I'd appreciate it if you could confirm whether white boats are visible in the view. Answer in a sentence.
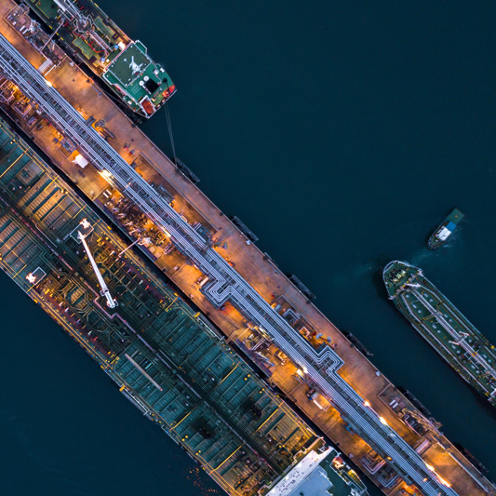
No, there is no white boat in the image.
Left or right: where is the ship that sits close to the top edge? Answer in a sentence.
The ship that sits close to the top edge appears in the left half of the scene.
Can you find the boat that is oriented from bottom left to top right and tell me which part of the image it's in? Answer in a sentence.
You can find the boat that is oriented from bottom left to top right in the right area of the picture.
